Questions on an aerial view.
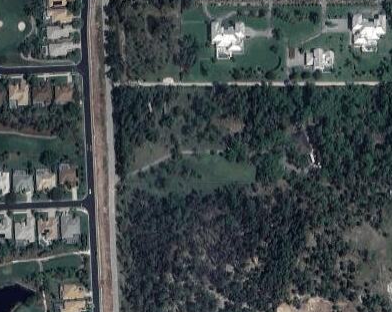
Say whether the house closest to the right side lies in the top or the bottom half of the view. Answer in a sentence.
It is in the top half that the house closest to the right side appears.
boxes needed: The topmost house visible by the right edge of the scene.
[351,14,387,44]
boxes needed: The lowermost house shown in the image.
[56,299,87,312]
